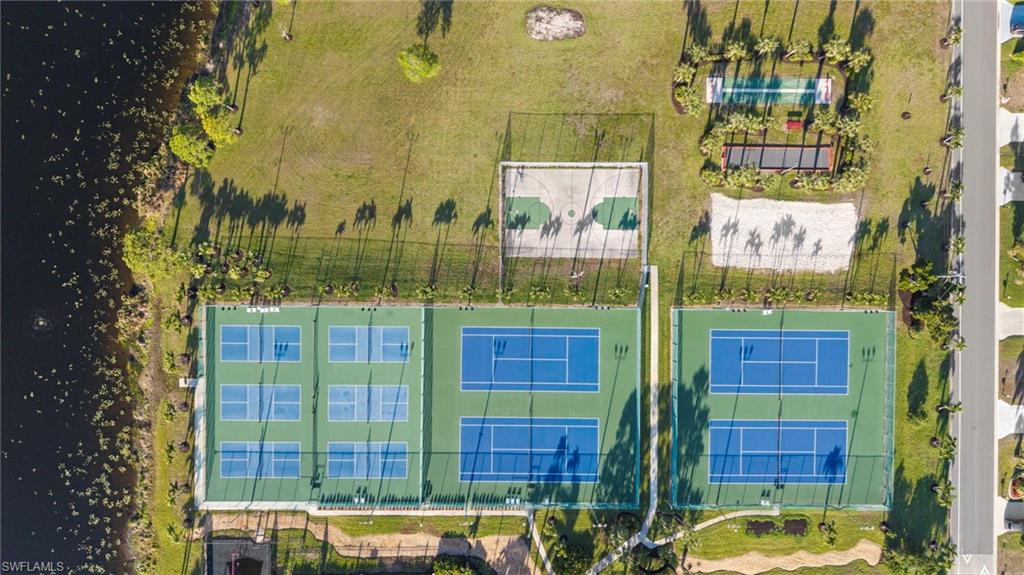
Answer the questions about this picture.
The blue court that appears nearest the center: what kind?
tennis court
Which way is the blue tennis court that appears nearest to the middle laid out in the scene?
from side to side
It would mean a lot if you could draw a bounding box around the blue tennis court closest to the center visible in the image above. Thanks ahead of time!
[460,326,600,392]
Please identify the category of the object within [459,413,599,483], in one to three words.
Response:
tennis court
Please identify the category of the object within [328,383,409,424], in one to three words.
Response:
sports court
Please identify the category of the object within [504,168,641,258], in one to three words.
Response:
basketball court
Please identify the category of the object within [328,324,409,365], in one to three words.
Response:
sports court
